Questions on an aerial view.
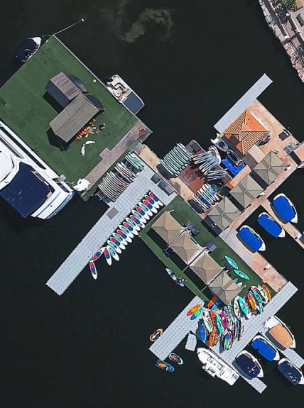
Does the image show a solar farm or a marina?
marina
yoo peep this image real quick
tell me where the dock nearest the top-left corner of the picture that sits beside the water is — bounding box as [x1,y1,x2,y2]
[0,34,153,201]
